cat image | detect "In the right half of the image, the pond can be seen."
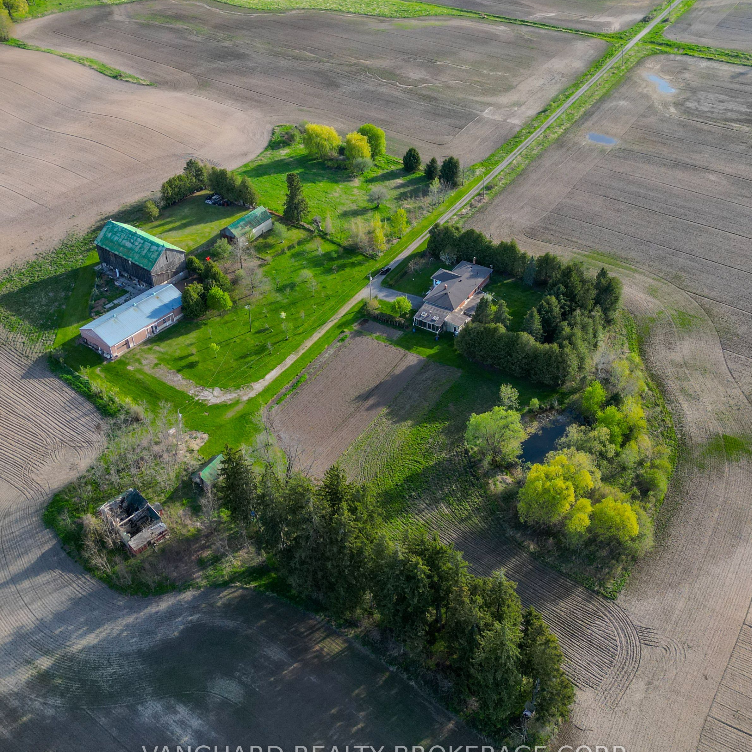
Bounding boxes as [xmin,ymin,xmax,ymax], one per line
[514,408,594,466]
